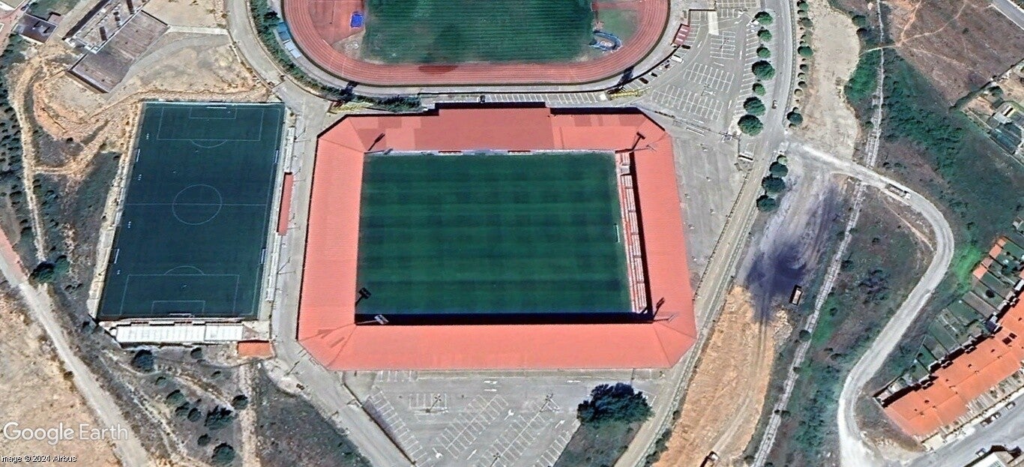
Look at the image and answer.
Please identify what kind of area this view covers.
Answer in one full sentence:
The area seen from above is a sports ground.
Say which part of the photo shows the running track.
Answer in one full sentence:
The running track is in the top part of the image.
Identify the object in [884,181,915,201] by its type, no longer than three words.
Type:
vehicle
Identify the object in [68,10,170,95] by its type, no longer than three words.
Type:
building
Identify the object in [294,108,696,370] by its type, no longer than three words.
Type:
stadium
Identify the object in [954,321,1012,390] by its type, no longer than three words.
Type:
house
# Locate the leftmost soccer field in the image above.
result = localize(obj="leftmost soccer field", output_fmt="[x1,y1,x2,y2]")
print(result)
[97,103,285,320]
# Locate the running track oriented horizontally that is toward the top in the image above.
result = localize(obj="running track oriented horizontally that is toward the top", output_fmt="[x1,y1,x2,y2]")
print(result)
[284,0,668,85]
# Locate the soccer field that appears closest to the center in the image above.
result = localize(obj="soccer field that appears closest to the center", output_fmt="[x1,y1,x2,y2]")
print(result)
[357,156,633,323]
